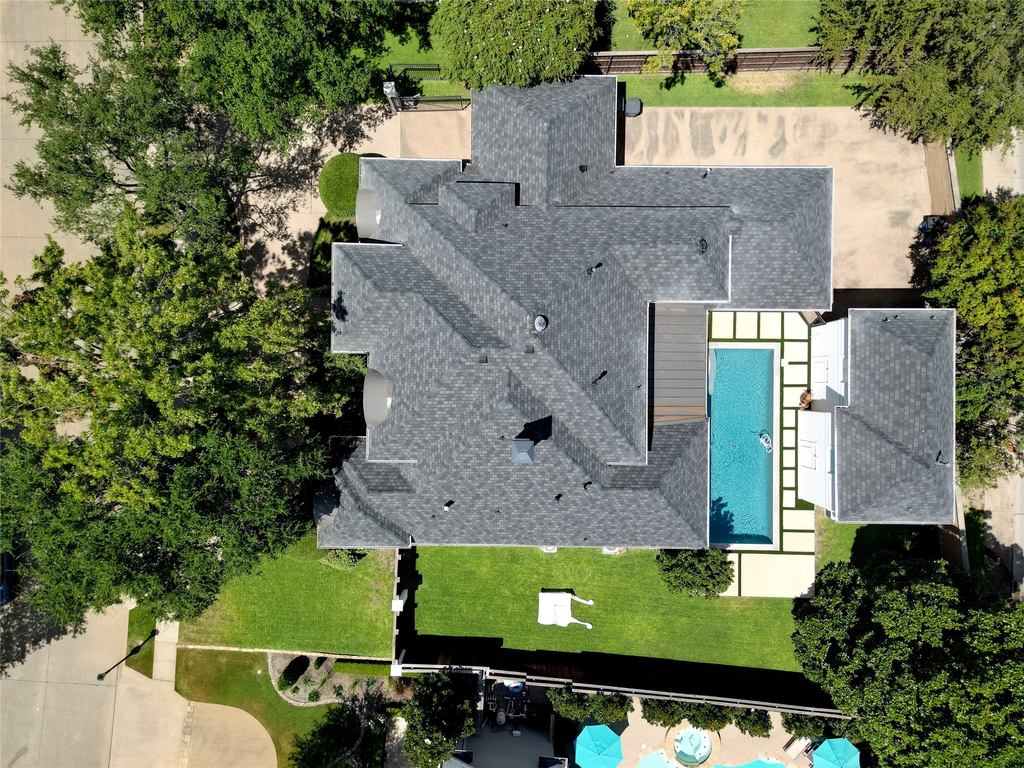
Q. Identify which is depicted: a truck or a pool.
pool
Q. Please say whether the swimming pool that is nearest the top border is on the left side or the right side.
right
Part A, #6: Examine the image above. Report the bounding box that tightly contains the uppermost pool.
[690,342,787,552]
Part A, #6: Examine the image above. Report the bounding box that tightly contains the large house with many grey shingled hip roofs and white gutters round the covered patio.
[310,75,835,549]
